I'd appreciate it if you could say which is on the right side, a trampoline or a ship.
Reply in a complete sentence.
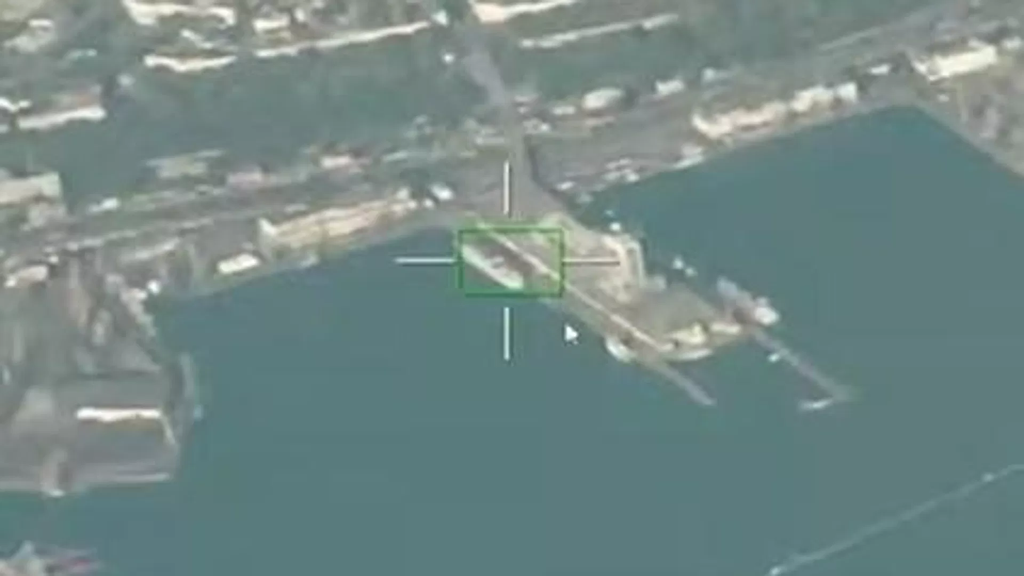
Looking on the right side, you will find a ship.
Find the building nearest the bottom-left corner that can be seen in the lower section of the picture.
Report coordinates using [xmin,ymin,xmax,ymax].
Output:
[77,374,164,422]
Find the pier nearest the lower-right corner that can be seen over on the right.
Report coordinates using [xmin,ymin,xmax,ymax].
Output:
[790,350,851,398]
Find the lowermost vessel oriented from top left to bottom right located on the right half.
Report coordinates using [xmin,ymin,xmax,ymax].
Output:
[606,336,639,369]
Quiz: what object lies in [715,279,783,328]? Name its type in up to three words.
ship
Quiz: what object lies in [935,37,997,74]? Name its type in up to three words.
building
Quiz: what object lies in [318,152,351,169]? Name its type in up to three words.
house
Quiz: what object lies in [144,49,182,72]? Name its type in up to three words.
shed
